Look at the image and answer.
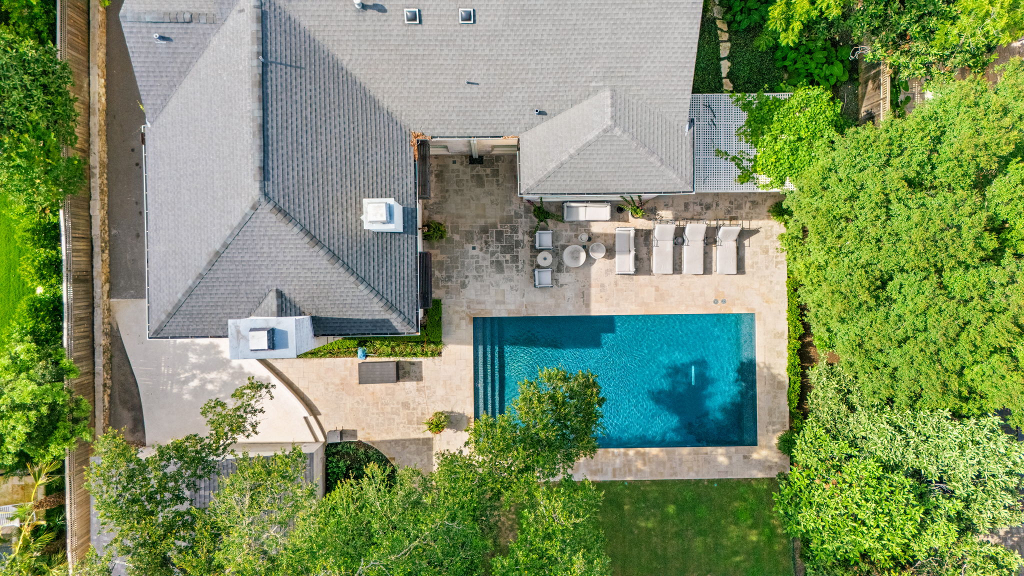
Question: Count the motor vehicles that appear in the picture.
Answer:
none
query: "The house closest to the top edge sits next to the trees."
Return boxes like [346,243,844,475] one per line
[118,0,703,358]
